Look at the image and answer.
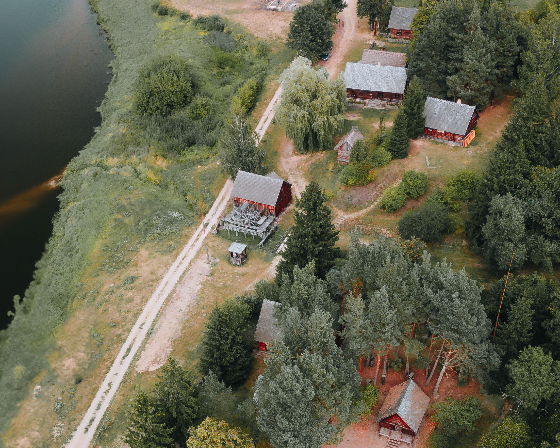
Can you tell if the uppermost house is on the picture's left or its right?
right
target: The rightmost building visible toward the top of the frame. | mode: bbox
[420,96,481,148]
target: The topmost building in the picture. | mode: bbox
[388,11,416,38]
